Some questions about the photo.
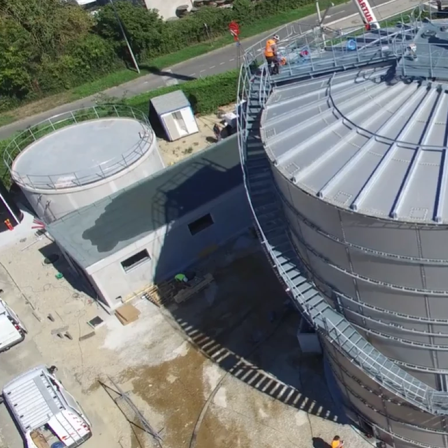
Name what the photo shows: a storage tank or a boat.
storage tank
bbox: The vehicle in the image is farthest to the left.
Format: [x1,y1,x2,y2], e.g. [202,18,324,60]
[0,294,31,350]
